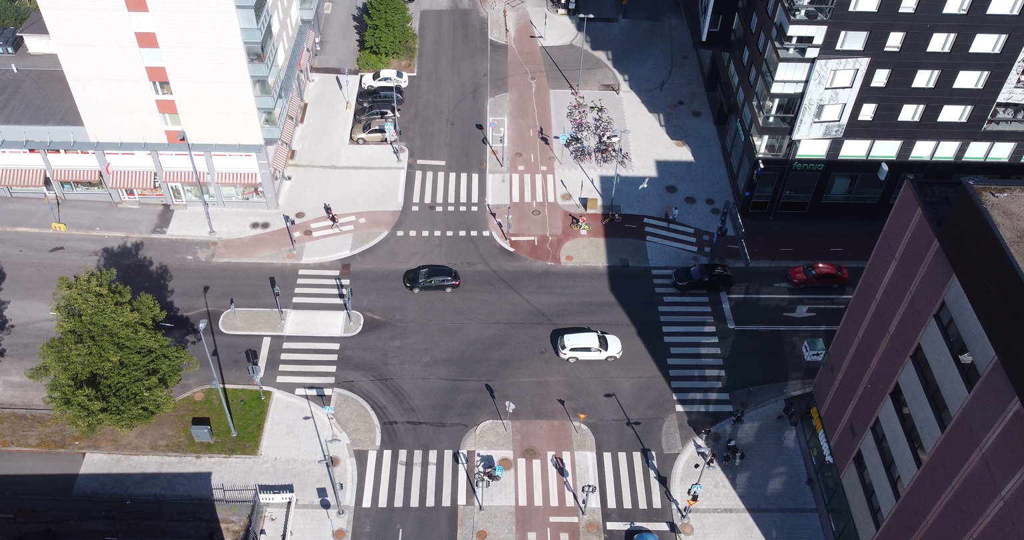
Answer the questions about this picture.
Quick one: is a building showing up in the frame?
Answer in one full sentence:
Yes, there's a building here.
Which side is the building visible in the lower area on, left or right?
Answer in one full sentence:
You can find the building visible in the lower area on the right side of the picture.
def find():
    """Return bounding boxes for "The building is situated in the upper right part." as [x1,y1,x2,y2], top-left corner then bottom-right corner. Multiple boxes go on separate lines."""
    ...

[683,0,1024,213]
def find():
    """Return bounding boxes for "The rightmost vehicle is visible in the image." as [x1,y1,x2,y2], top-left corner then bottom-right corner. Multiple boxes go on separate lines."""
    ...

[787,259,850,287]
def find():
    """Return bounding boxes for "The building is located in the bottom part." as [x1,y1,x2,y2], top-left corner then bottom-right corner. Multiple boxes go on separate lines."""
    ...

[801,177,1024,540]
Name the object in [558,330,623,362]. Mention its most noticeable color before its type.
white car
